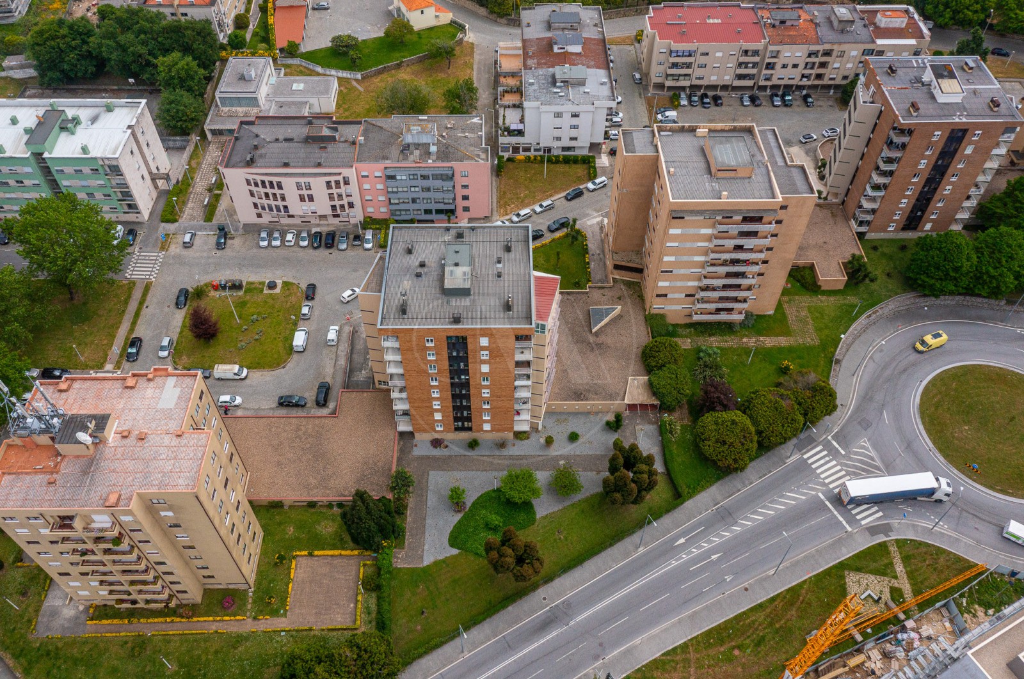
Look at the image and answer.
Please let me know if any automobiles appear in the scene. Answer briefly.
Yes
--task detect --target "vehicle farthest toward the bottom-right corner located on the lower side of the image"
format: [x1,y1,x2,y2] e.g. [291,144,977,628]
[1001,517,1024,552]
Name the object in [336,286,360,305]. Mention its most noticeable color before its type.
white car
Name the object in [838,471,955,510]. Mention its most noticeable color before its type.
white truck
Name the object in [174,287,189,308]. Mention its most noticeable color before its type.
black car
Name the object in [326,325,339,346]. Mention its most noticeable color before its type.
white vehicle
